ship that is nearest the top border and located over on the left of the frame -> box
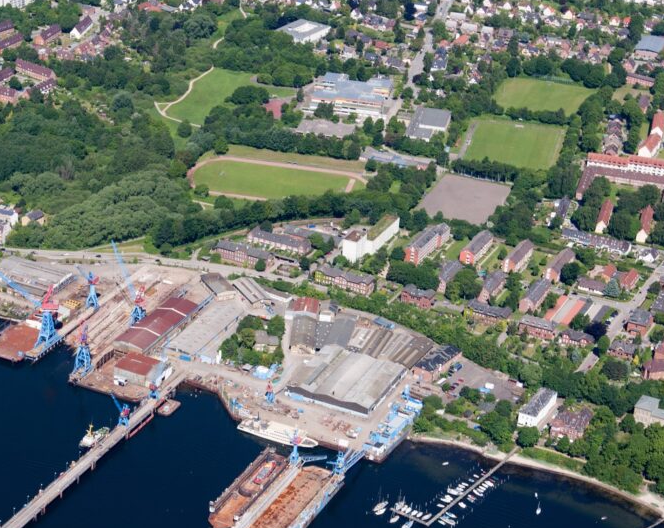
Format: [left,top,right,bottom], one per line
[157,399,181,417]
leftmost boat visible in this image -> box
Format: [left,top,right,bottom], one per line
[79,418,111,448]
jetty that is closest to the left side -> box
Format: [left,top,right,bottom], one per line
[0,316,39,364]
